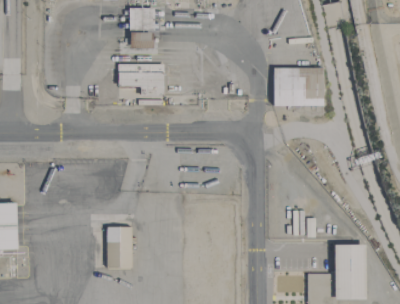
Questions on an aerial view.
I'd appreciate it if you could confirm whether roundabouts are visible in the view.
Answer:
No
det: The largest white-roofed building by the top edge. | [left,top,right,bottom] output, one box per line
[129,8,156,31]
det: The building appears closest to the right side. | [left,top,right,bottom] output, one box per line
[336,245,368,301]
